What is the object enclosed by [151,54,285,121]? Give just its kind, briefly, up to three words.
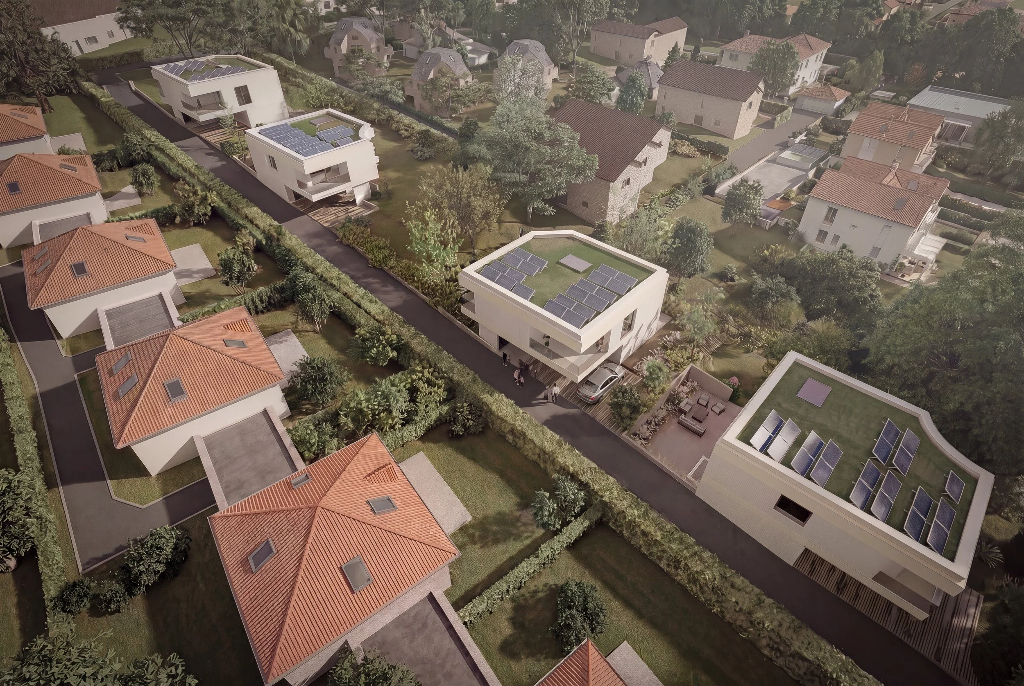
house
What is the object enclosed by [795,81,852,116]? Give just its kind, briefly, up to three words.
building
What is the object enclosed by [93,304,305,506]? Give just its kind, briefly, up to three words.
house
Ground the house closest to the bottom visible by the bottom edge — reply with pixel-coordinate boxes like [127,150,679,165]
[529,637,628,686]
